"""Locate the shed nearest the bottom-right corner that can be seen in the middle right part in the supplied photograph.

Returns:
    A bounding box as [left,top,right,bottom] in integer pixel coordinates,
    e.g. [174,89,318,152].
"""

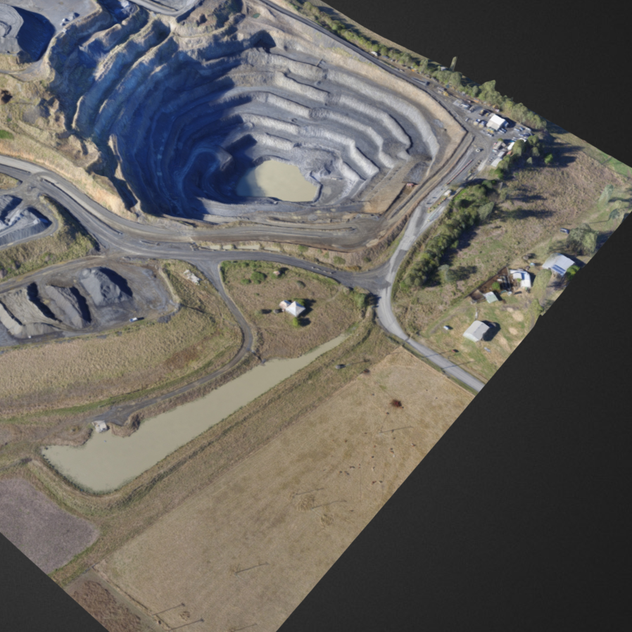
[465,320,490,346]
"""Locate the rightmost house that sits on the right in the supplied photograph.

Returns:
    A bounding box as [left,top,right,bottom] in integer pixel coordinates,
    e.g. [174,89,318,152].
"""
[542,252,569,278]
